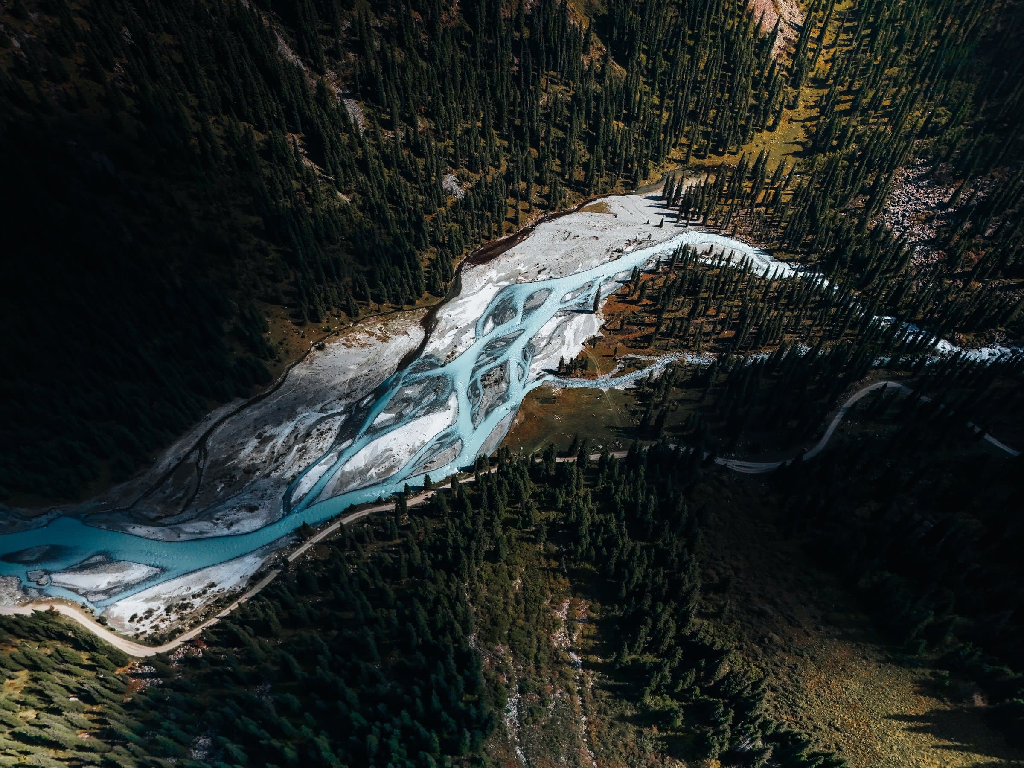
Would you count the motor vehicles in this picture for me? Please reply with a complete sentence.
I count no motor vehicles.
